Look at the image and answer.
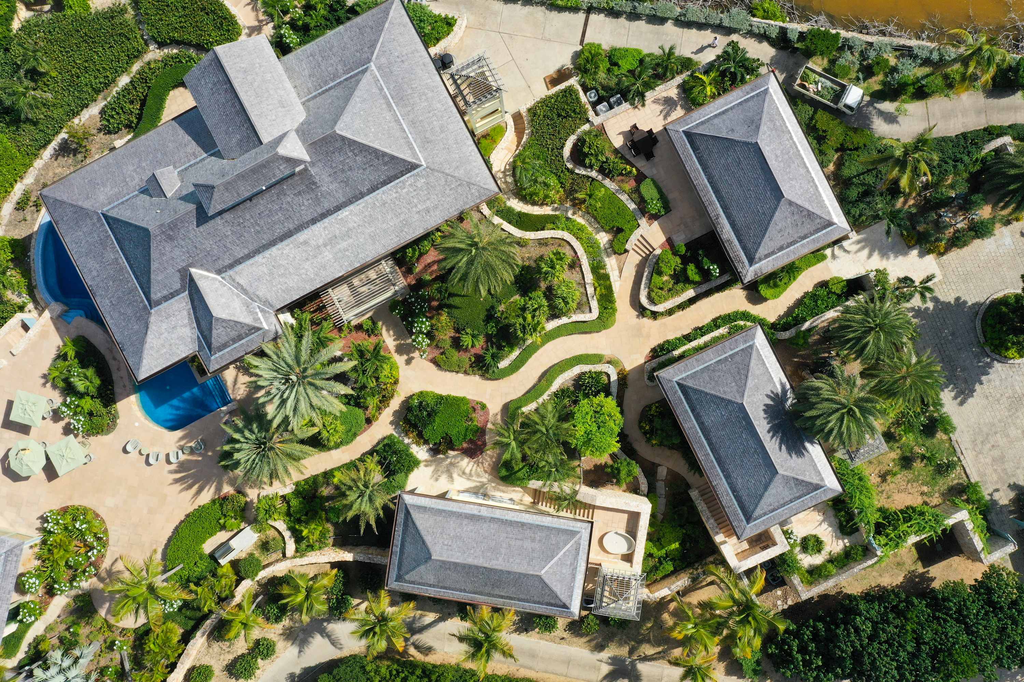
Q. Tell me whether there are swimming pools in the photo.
Yes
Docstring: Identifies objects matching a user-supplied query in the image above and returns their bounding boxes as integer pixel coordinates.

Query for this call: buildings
[383,483,595,623]
[652,321,847,543]
[0,532,53,647]
[38,0,504,387]
[663,71,854,287]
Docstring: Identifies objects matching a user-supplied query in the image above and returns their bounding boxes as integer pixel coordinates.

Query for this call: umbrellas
[10,390,52,428]
[43,434,88,478]
[5,437,48,479]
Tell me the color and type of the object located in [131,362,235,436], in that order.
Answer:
blue swimming pool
